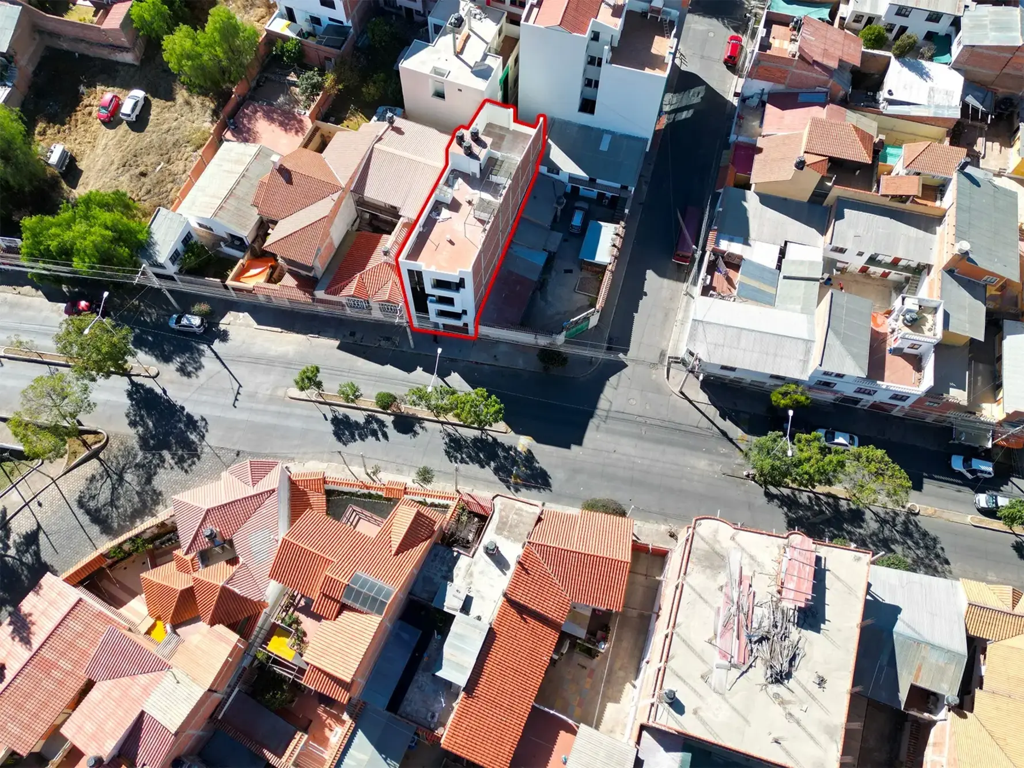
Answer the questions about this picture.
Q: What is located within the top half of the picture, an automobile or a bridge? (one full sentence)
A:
There is an automobile within the top half of the picture.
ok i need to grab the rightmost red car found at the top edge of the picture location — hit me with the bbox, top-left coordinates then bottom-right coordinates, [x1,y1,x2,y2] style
[723,36,742,68]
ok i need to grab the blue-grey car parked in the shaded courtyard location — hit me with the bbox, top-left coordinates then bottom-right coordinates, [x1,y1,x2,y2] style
[567,201,589,236]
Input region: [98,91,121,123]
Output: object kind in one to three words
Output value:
car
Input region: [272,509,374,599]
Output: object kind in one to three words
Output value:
house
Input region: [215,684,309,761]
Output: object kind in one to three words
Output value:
house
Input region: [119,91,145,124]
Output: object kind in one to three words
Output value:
car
